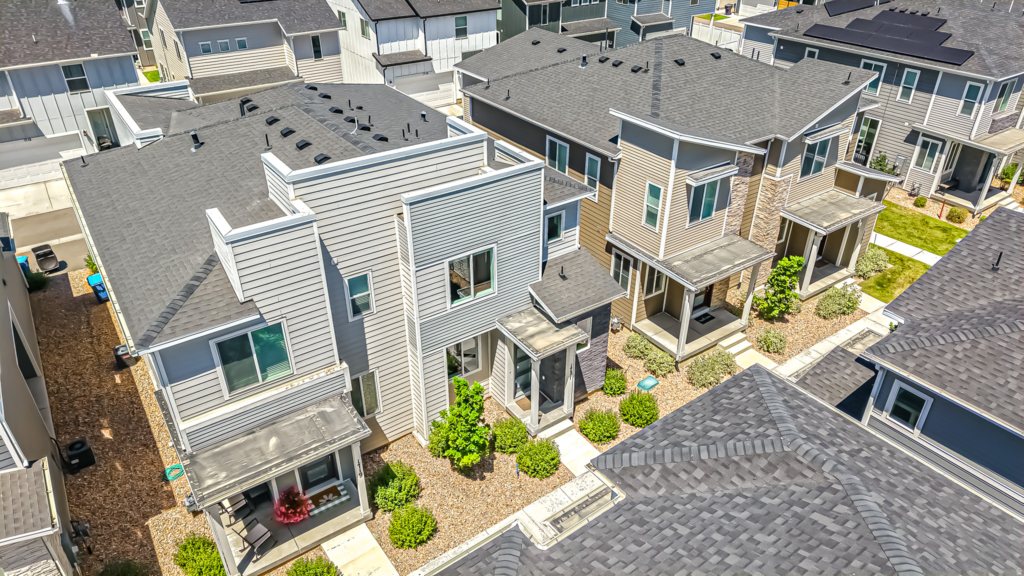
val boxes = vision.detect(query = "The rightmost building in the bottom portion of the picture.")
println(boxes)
[782,204,1024,521]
